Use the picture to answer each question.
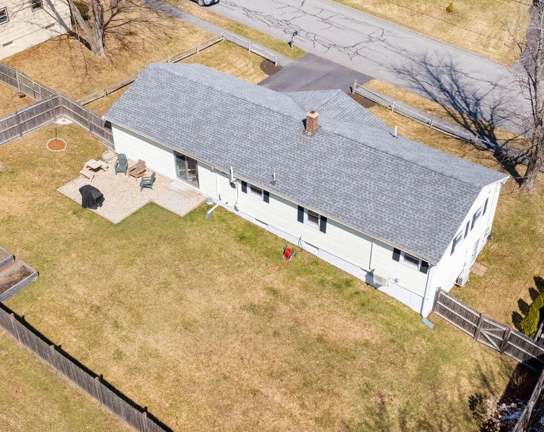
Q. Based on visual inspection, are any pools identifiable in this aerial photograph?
No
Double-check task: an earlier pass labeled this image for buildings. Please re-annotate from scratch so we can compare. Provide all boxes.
[100,63,511,315]
[0,0,71,62]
